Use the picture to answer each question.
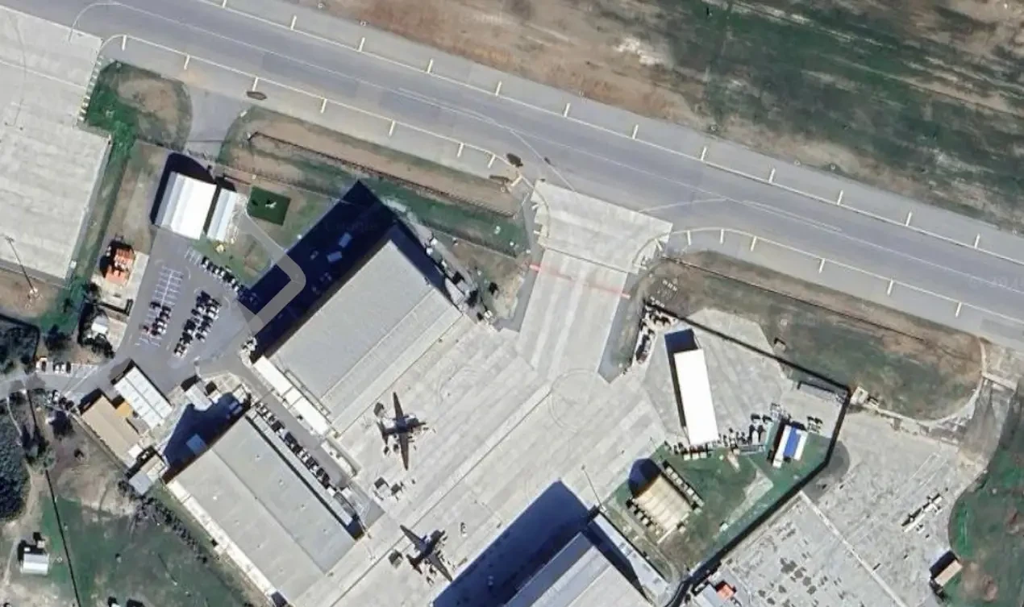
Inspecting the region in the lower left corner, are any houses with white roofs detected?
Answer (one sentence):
Yes, looking in the lower left corner, one can make out a house with a white roof.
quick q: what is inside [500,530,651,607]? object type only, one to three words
hangar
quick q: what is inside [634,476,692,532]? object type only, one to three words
hangar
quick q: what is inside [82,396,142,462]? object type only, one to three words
building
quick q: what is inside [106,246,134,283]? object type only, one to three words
house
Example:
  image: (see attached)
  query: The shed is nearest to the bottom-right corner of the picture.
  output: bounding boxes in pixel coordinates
[934,561,962,586]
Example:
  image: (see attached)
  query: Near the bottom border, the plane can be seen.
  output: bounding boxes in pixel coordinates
[398,526,455,580]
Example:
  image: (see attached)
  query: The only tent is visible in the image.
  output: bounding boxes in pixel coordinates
[775,425,807,463]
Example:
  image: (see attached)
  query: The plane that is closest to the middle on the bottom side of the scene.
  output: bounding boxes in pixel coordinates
[379,393,427,468]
